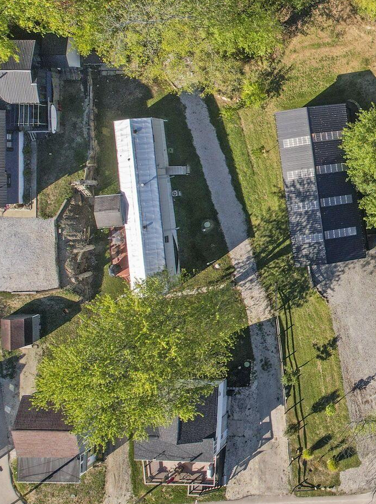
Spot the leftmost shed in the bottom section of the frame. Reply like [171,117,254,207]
[3,312,50,350]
